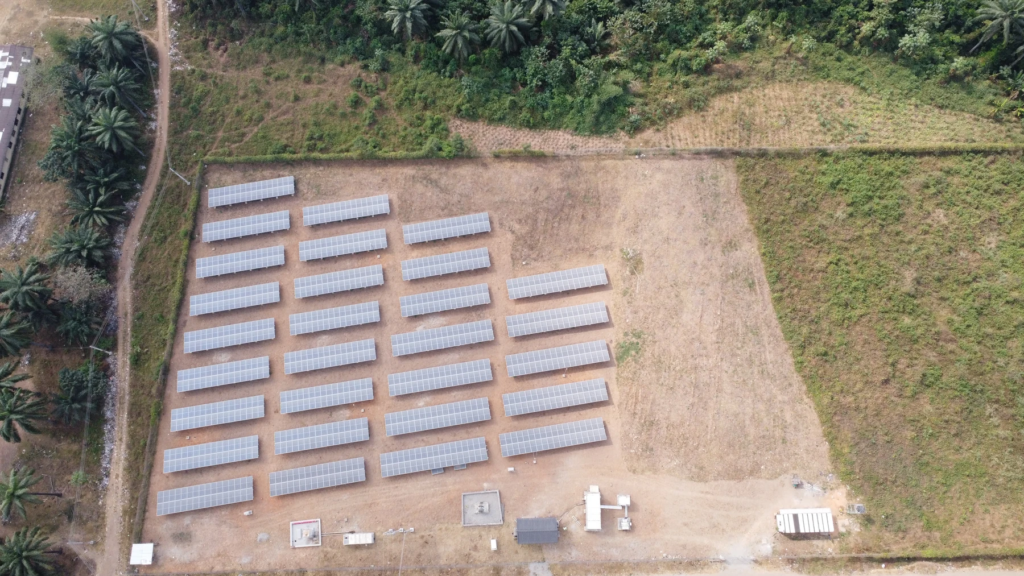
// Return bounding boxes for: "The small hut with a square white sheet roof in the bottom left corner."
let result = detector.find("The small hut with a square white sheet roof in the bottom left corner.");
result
[130,541,159,567]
